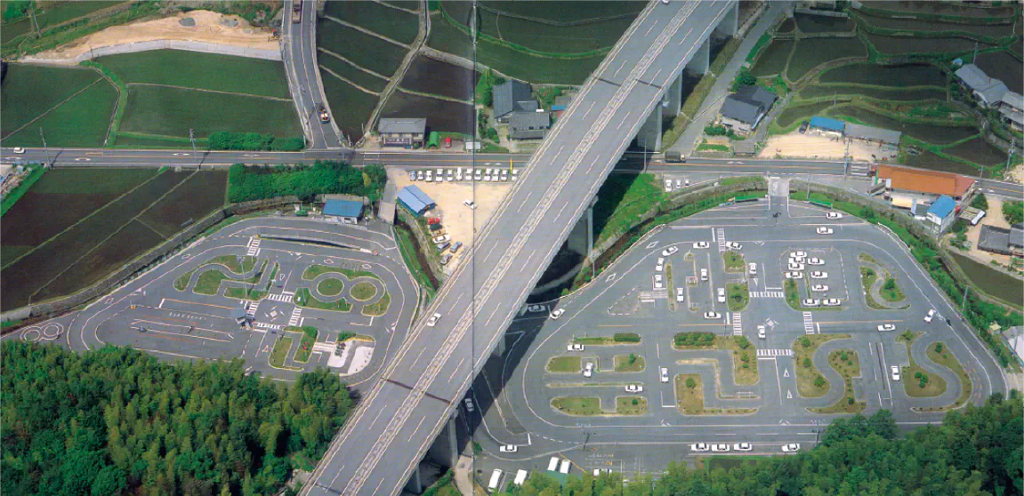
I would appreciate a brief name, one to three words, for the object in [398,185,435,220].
shed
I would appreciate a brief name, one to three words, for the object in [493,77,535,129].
house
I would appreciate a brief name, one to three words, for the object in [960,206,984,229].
shed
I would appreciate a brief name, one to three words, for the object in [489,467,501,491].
vehicle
